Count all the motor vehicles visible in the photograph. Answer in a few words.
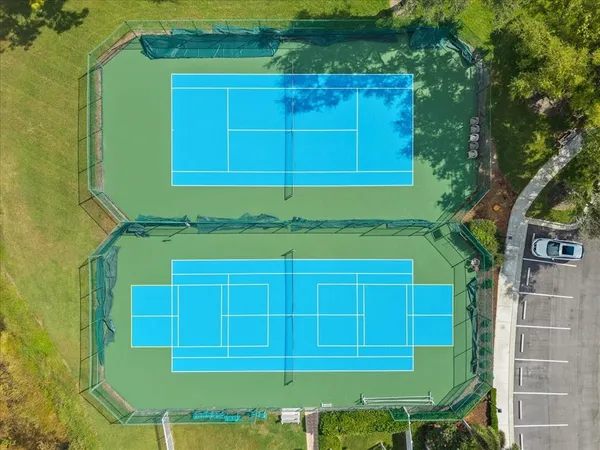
1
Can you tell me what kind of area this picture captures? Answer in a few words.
sports ground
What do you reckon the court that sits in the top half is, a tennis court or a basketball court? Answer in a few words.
tennis court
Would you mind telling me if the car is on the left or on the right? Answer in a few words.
right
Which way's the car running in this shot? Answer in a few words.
from left to right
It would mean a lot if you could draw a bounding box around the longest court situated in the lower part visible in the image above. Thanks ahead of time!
[105,223,476,408]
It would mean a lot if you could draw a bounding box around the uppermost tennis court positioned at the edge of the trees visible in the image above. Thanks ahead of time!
[104,36,477,223]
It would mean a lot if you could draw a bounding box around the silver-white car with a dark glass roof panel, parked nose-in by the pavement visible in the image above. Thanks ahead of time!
[531,237,584,261]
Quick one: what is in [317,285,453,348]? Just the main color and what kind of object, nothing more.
blue sports court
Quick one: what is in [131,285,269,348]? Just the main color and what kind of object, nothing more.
blue sports court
